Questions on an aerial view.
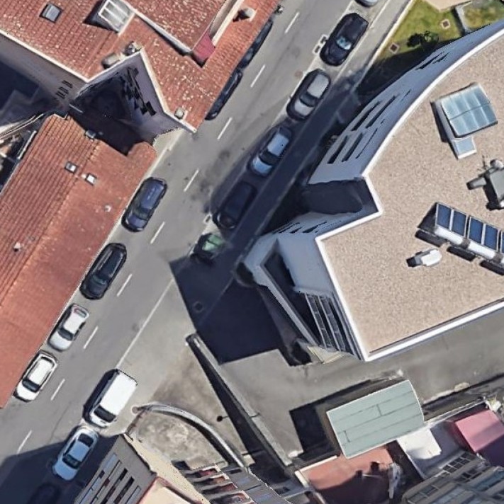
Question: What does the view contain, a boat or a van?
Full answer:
There is a van in the scene.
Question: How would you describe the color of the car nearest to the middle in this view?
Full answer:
The car nearest to the middle looks black in the image.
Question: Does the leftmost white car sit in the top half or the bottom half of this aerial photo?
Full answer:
It is in the bottom half that the leftmost white car appears.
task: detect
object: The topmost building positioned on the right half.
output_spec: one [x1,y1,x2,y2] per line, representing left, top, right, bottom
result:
[247,23,504,366]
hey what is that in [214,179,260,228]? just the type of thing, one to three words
car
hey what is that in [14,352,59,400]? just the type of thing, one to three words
car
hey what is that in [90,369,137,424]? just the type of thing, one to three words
van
